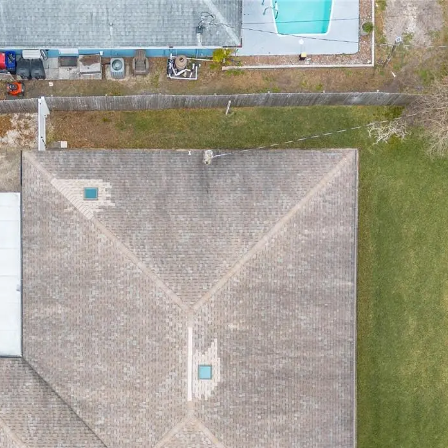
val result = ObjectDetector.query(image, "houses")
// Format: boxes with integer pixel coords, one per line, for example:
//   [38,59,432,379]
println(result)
[0,0,243,61]
[0,148,359,448]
